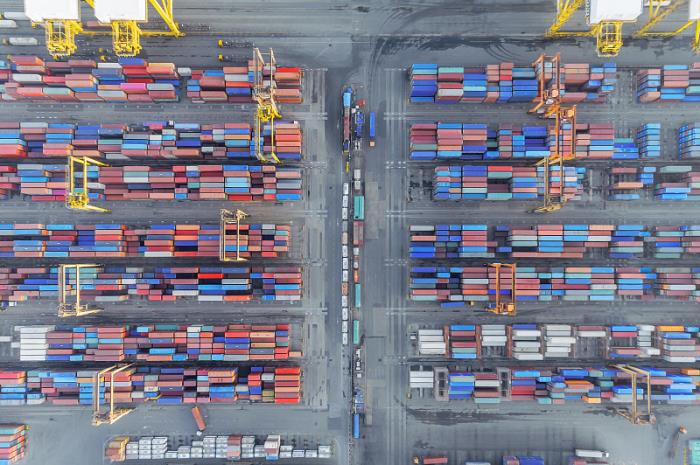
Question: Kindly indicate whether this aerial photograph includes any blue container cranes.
No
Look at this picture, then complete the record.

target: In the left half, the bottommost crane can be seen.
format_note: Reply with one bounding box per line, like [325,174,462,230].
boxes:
[93,362,141,432]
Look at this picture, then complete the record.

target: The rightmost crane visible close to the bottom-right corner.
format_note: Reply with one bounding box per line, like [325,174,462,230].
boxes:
[602,362,654,432]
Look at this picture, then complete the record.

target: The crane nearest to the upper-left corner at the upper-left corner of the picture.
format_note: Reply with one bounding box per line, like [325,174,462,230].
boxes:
[27,0,111,61]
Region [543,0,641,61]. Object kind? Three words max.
container crane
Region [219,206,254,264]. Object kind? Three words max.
crane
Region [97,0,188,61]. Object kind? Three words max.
container crane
